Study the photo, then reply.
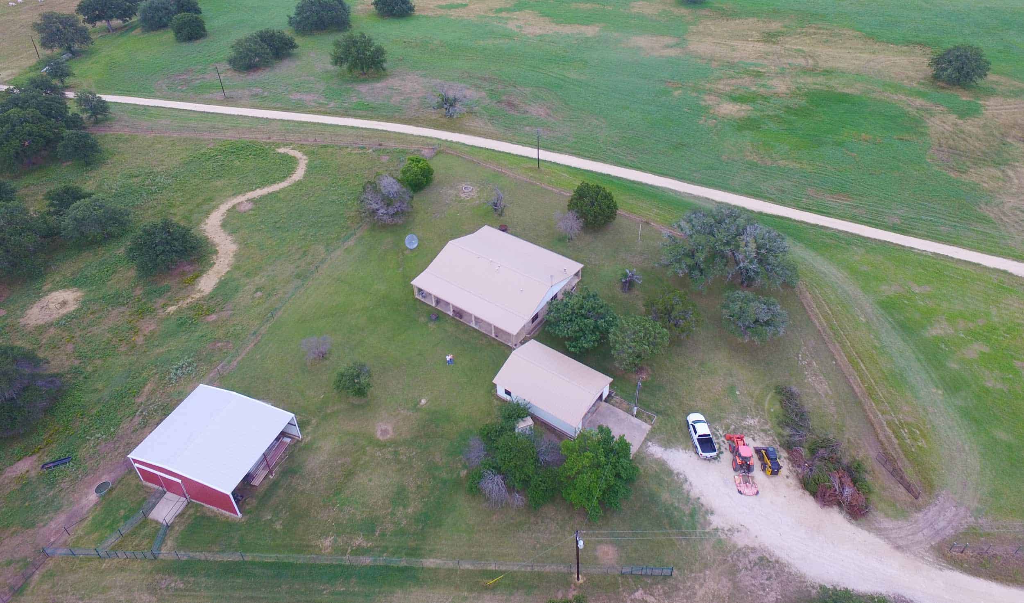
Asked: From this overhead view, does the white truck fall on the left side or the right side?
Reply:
right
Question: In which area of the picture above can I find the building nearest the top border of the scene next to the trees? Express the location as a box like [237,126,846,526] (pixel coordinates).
[411,225,585,349]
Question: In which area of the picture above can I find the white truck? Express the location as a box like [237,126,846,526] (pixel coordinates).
[687,416,720,463]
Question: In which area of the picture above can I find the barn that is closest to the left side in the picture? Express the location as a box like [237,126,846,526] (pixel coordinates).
[128,383,301,518]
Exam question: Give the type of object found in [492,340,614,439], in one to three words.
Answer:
building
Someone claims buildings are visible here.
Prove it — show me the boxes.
[492,340,614,439]
[411,225,585,349]
[128,383,301,518]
